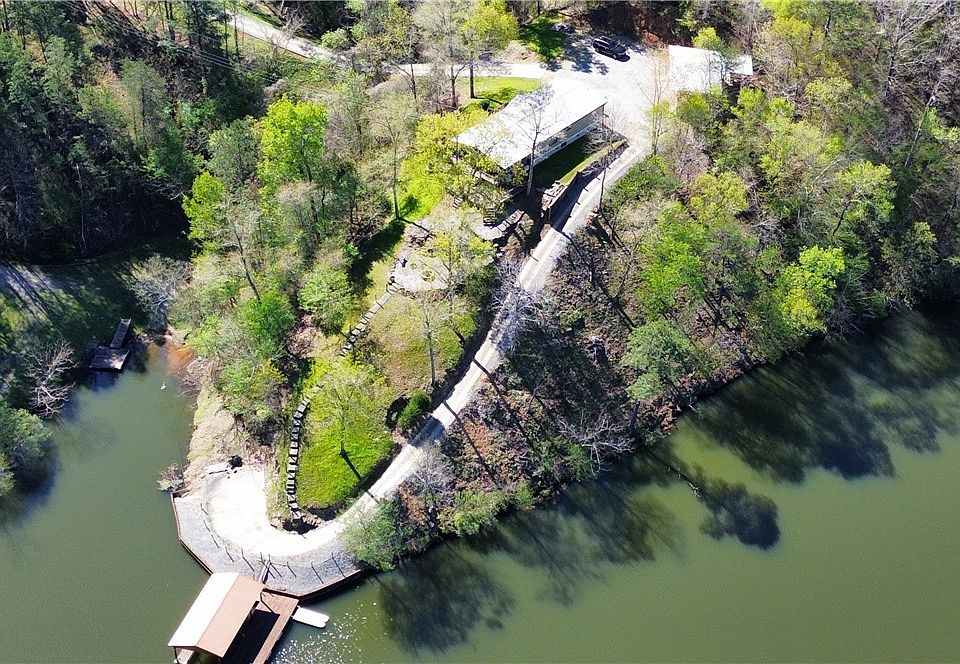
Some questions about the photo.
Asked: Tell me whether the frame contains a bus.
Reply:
No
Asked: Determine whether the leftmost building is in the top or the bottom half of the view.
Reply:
bottom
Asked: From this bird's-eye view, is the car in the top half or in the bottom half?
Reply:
top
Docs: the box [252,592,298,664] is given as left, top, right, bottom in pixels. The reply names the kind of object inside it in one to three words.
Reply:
pier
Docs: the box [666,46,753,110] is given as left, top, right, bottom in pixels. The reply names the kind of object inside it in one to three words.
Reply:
shed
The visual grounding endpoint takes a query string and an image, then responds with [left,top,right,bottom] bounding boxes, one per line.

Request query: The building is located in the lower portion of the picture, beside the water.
[170,572,263,664]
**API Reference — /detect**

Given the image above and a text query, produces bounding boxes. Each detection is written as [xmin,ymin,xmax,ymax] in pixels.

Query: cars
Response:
[592,38,629,60]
